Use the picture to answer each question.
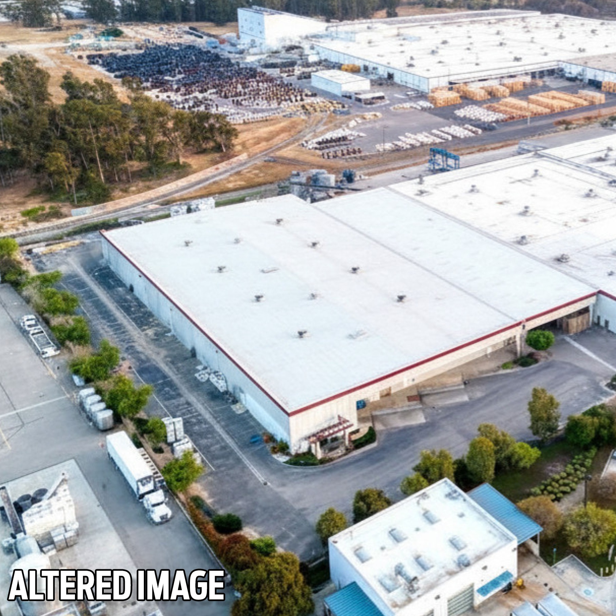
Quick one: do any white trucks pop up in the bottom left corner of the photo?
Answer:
Yes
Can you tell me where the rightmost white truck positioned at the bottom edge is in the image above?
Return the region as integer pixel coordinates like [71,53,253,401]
[541,594,575,616]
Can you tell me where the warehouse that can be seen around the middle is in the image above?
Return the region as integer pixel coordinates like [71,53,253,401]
[101,152,616,456]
